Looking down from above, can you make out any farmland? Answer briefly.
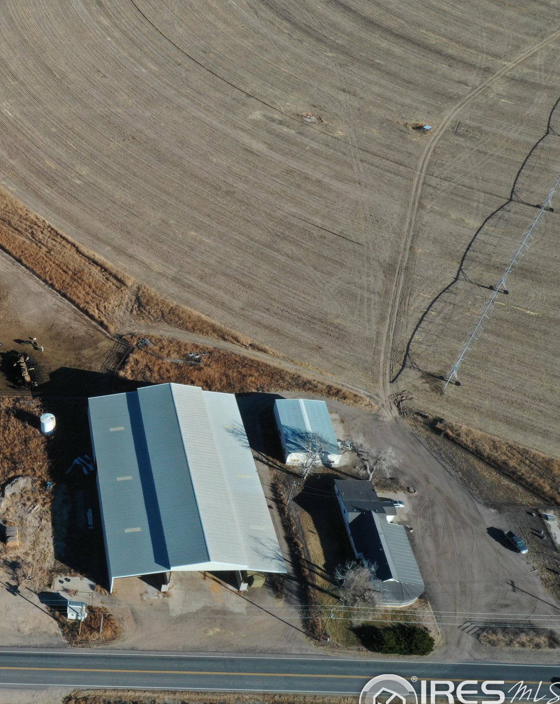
Yes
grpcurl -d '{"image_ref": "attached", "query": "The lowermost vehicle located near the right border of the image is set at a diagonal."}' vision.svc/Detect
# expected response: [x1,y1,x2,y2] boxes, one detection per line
[505,531,532,554]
